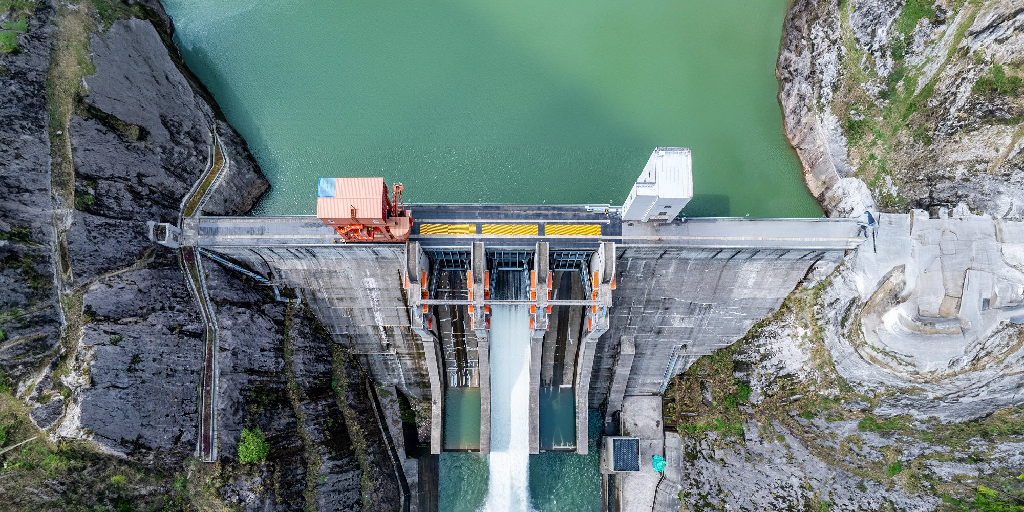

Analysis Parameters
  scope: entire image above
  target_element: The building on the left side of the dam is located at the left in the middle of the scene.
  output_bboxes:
[137,215,190,245]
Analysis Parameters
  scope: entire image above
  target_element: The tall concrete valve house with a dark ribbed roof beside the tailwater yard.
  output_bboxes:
[598,434,640,474]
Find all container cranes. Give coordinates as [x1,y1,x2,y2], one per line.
[317,176,419,245]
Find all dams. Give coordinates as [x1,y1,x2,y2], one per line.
[187,203,886,454]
